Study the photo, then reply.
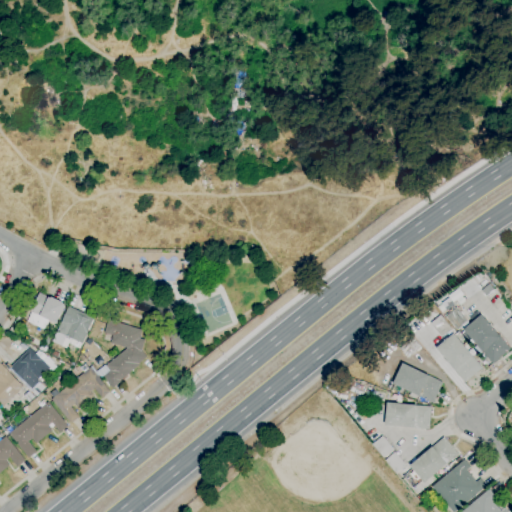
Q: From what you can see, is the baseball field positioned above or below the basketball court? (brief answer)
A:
below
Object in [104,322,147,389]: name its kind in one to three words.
house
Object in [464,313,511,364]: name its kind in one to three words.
house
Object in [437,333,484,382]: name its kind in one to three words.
building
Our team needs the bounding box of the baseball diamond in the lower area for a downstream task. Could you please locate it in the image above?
[192,419,399,512]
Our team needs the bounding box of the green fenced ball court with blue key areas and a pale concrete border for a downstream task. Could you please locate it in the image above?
[192,285,239,337]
